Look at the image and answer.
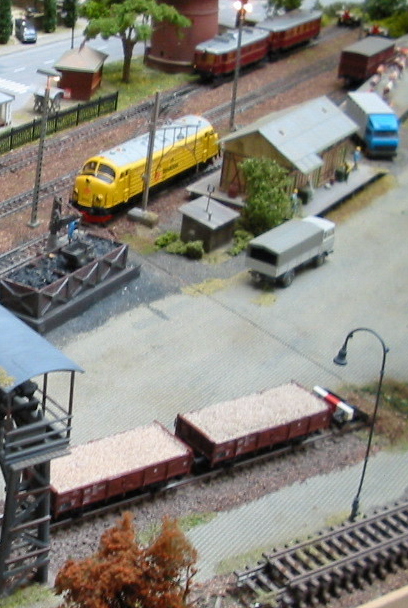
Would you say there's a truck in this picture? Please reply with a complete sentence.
Yes, the photo shows a truck.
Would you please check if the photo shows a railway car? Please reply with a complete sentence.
Yes, the photo shows a railway car.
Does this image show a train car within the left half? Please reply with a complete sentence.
Yes, there is a train car within the left half.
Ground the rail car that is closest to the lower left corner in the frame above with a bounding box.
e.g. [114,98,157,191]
[20,427,192,523]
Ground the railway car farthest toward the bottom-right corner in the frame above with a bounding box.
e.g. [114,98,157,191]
[176,386,332,474]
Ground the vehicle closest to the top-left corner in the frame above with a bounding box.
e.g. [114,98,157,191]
[13,17,38,41]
